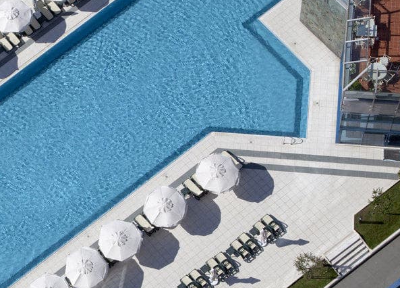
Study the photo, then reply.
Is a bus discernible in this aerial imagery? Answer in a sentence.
No, the scene contains no bus.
